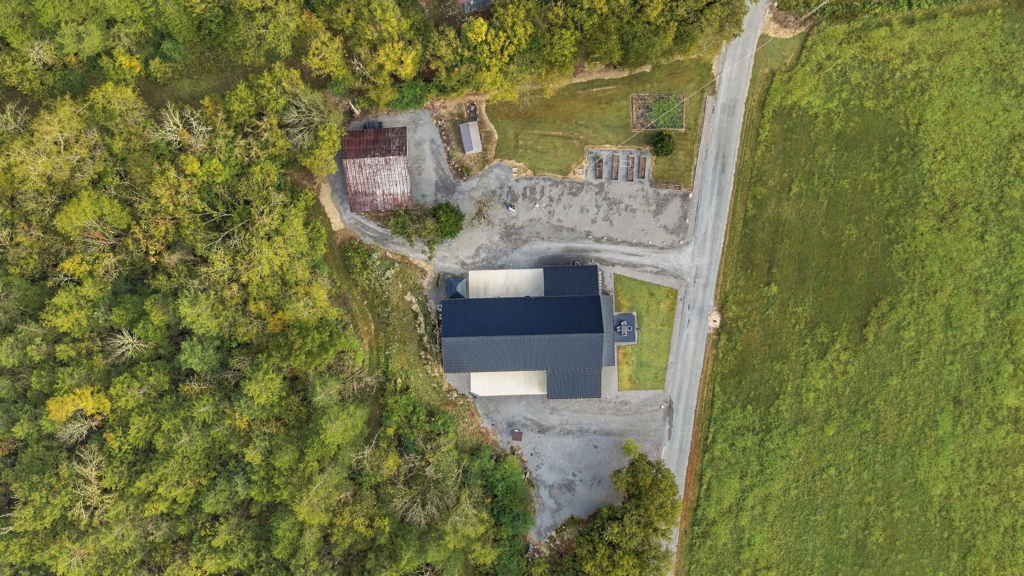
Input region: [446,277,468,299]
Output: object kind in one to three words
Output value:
gazebo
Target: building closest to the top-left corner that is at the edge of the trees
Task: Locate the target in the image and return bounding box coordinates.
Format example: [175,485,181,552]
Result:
[342,126,413,213]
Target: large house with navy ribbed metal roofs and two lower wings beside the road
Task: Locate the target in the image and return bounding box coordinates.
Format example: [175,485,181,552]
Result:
[442,264,616,400]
